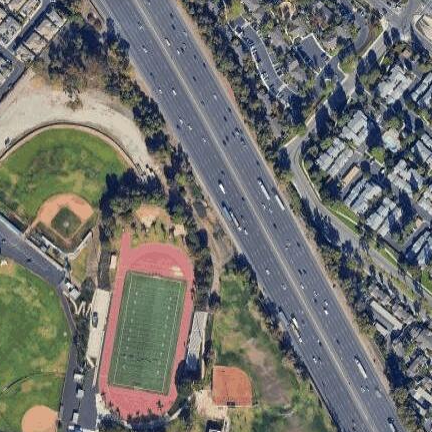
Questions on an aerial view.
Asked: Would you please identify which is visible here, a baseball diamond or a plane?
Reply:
baseball diamond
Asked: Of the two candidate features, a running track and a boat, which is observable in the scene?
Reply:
running track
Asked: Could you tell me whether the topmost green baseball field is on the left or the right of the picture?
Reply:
left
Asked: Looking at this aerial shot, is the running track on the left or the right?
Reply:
left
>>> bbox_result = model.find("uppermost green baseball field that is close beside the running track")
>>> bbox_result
[0,125,134,254]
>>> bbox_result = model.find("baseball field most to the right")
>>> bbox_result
[212,366,252,406]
